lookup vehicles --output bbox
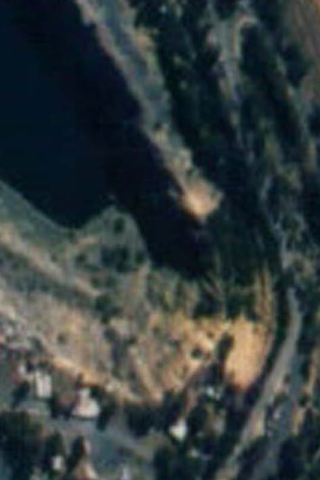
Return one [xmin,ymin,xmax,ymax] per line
[272,409,279,419]
[123,471,128,480]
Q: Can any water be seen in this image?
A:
Yes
